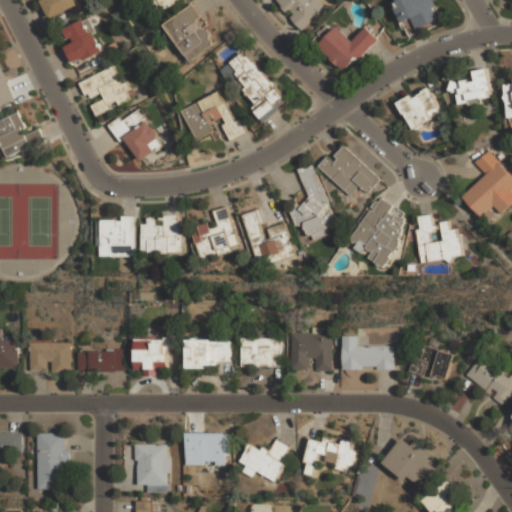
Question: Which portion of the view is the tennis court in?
left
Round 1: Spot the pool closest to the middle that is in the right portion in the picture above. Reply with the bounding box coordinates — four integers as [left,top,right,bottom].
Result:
[333,251,350,272]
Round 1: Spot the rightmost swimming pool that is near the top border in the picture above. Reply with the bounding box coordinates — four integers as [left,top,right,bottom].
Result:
[350,3,365,28]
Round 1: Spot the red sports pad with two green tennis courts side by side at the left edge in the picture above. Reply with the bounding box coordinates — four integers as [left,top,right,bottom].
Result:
[0,164,80,281]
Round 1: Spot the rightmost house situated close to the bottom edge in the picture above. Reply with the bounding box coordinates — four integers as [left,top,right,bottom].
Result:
[422,480,452,512]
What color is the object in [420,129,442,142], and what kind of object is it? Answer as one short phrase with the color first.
blue swimming pool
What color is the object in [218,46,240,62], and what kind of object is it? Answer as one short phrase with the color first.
blue swimming pool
